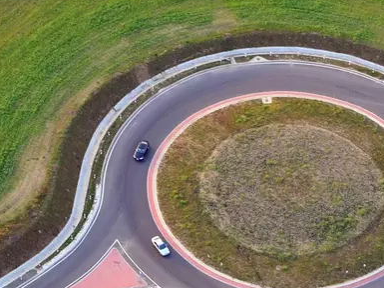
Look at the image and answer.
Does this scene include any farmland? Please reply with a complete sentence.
Yes, farmland can be seen from above here.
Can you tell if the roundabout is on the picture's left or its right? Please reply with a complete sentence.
The roundabout is on the right side of the image.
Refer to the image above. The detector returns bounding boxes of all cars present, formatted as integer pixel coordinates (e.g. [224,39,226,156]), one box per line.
[135,139,151,158]
[151,233,170,256]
